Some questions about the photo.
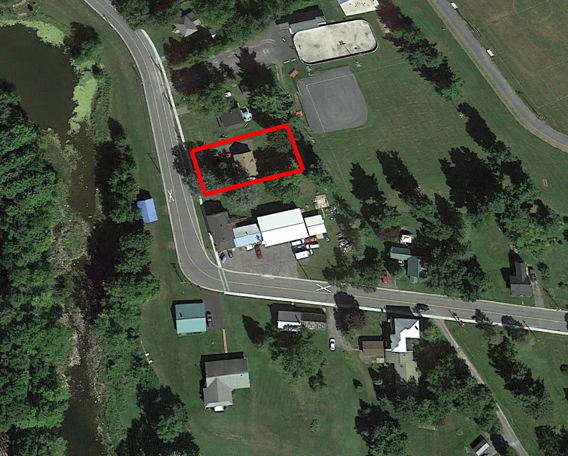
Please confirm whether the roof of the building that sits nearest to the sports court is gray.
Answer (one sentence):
Yes, the roof of the building that sits nearest to the sports court appears gray.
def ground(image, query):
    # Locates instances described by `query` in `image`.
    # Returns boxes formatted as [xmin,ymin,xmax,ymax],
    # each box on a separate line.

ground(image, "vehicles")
[293,244,305,251]
[296,251,313,259]
[323,233,331,243]
[330,338,335,350]
[244,243,255,250]
[383,271,388,283]
[305,243,320,249]
[303,237,318,243]
[292,239,304,246]
[529,268,536,282]
[207,314,212,325]
[218,252,227,264]
[254,245,263,259]
[416,305,429,310]
[228,249,233,260]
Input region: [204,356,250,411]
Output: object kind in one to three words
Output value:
house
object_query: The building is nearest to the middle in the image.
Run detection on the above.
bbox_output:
[258,208,308,247]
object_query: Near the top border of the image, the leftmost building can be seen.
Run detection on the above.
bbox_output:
[175,11,197,37]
